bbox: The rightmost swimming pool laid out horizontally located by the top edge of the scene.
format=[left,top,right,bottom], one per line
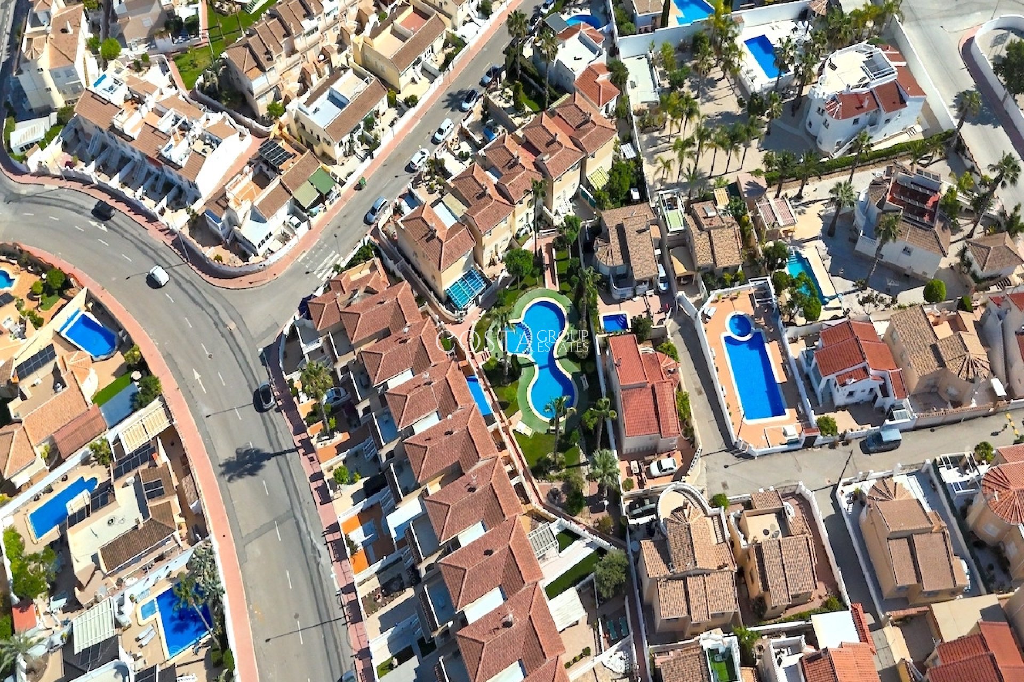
[672,0,718,21]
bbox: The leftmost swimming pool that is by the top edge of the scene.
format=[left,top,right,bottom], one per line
[563,12,602,30]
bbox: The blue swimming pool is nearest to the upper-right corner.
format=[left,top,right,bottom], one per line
[740,30,795,81]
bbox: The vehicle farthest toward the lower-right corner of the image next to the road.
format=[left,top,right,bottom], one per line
[864,424,906,450]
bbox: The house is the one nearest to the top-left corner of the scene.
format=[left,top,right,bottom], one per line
[20,0,94,105]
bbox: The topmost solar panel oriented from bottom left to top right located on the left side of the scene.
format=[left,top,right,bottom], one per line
[15,344,57,379]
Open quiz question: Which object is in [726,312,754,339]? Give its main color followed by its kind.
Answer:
blue swimming pool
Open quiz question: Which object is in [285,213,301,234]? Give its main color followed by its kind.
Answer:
white car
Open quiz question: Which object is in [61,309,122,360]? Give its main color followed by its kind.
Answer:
blue swimming pool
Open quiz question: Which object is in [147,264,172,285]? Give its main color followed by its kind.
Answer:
white car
